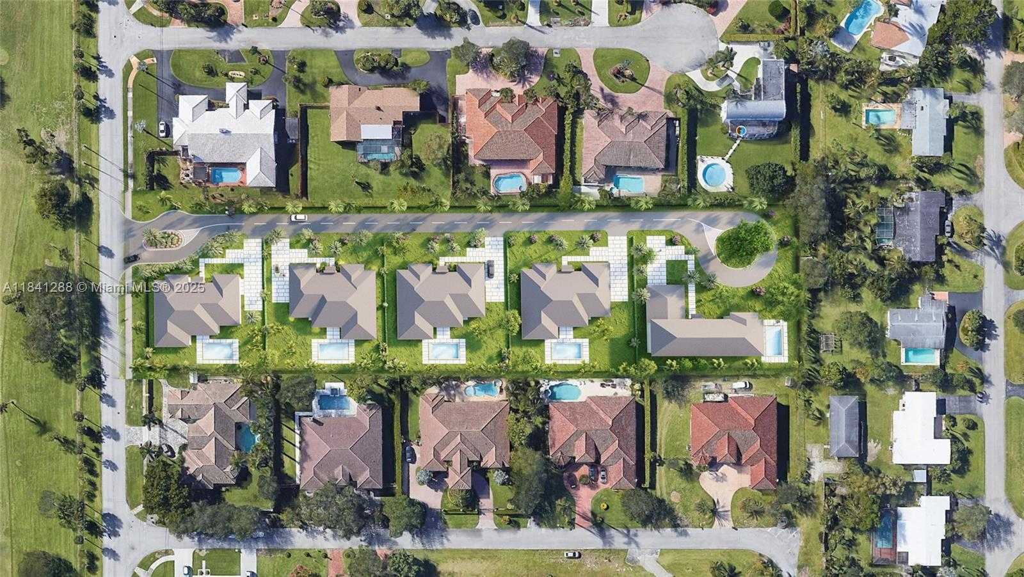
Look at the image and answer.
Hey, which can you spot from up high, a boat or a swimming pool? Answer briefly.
swimming pool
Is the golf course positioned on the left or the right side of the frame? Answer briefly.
left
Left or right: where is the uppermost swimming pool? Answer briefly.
right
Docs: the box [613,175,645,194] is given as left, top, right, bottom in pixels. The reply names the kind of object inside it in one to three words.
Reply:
swimming pool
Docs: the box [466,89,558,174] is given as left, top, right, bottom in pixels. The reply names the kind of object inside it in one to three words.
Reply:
house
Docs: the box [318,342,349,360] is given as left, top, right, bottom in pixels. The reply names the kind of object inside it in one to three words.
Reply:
swimming pool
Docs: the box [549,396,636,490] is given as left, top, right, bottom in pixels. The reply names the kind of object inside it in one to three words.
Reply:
house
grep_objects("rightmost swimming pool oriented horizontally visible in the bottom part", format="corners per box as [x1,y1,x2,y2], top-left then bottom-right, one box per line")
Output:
[905,349,936,364]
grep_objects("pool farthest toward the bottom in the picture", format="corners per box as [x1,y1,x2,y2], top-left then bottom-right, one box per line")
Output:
[876,511,894,549]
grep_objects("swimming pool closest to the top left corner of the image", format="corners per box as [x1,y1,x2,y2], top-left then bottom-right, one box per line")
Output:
[211,166,242,185]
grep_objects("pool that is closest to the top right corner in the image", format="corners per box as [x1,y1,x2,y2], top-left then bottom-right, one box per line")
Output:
[844,0,883,35]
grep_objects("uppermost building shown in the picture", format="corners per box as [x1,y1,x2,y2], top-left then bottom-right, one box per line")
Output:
[872,0,946,57]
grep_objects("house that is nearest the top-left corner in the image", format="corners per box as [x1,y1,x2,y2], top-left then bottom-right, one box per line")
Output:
[173,82,276,187]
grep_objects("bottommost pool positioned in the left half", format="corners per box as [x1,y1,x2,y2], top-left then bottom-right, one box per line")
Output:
[234,421,258,453]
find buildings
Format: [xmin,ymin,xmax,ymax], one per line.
[914,470,927,483]
[691,397,778,490]
[901,88,949,156]
[888,297,945,349]
[549,396,636,490]
[521,262,610,339]
[830,396,858,457]
[646,285,764,356]
[721,60,787,122]
[288,263,377,339]
[896,496,950,567]
[583,110,666,184]
[153,272,242,348]
[893,191,945,261]
[466,89,558,174]
[420,393,510,491]
[173,82,276,187]
[397,263,485,339]
[300,404,382,488]
[892,392,951,464]
[872,0,946,57]
[168,383,250,486]
[330,86,420,141]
